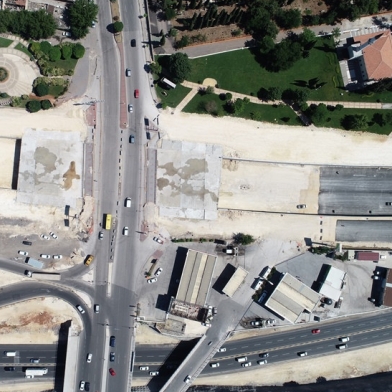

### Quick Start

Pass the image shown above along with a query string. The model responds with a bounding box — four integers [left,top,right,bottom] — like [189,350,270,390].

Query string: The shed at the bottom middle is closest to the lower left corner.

[157,317,187,334]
